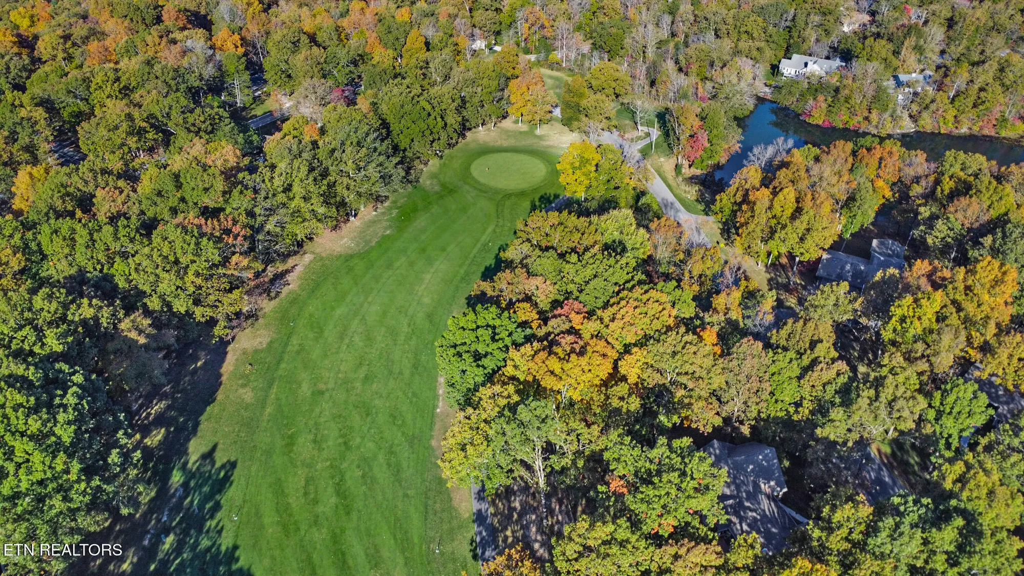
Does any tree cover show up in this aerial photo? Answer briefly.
Yes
